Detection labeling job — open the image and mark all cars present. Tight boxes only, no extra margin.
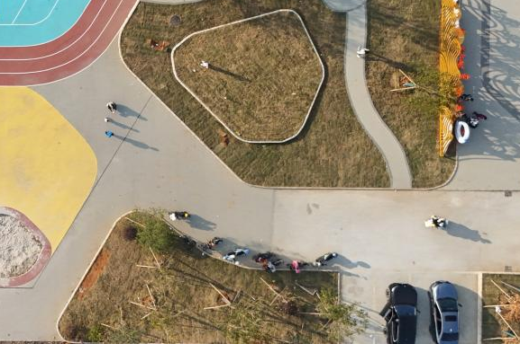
[425,281,463,344]
[375,283,422,344]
